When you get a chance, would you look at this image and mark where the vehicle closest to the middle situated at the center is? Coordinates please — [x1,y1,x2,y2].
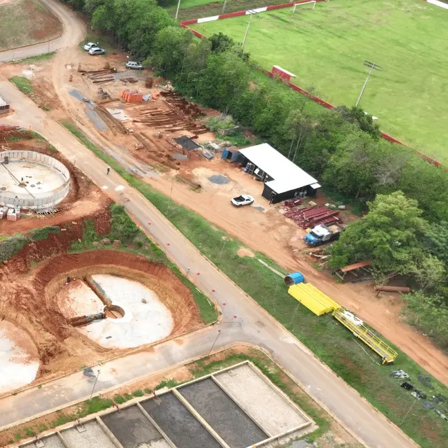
[231,194,254,206]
